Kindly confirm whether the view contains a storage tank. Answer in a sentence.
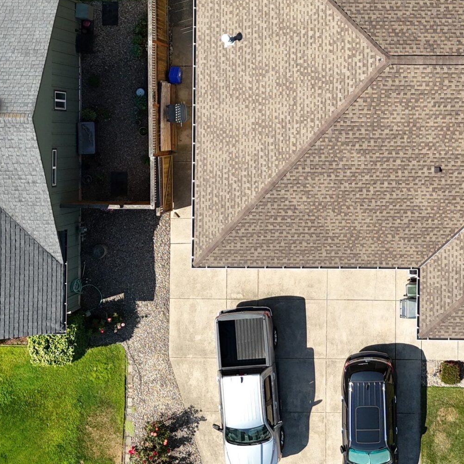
No, no storage tank can be seen from above.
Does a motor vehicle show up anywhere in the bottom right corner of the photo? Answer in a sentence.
Yes, there is a motor vehicle in the bottom right corner of the photo.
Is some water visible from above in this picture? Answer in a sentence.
No, no water is visible.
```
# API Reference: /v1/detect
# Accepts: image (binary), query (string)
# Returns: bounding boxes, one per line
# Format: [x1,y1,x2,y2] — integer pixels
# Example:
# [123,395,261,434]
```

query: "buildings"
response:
[192,0,464,339]
[0,0,81,340]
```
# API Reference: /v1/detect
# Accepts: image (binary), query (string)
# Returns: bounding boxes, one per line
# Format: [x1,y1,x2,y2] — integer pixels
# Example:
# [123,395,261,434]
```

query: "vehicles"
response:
[337,347,404,464]
[209,305,289,464]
